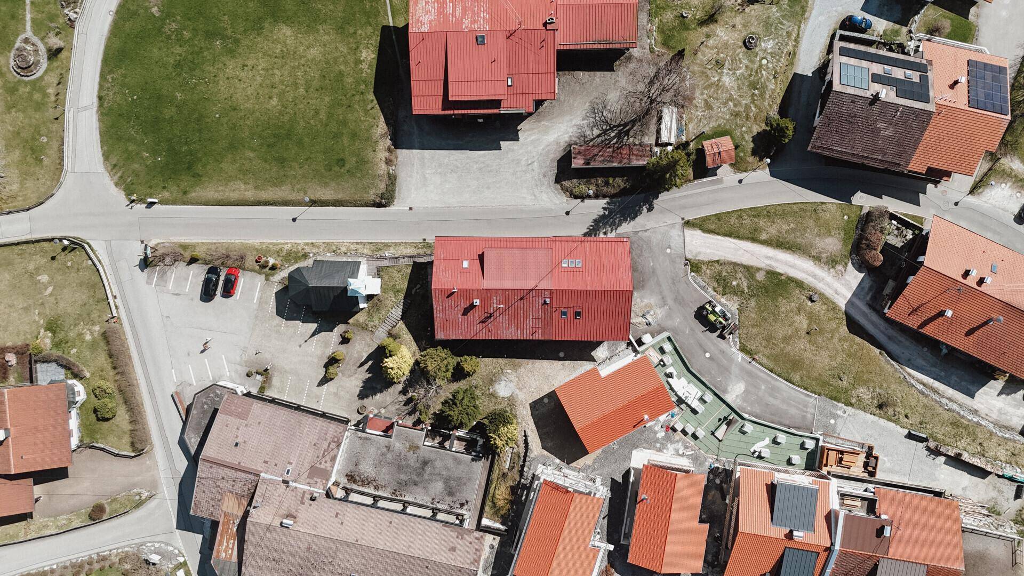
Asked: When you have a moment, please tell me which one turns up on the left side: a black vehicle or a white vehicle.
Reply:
black vehicle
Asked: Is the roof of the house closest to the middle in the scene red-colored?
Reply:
Yes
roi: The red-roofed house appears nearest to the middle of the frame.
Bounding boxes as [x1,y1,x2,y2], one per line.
[431,237,633,341]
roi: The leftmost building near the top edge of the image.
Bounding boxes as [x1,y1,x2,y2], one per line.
[409,0,556,118]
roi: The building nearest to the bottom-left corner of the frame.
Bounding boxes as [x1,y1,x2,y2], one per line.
[0,473,44,516]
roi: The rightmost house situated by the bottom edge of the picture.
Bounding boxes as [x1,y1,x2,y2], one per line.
[833,486,965,576]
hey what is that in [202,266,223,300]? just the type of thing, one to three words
car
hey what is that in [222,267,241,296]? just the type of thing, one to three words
car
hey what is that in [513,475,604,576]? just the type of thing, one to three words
house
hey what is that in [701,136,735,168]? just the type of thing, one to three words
shed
